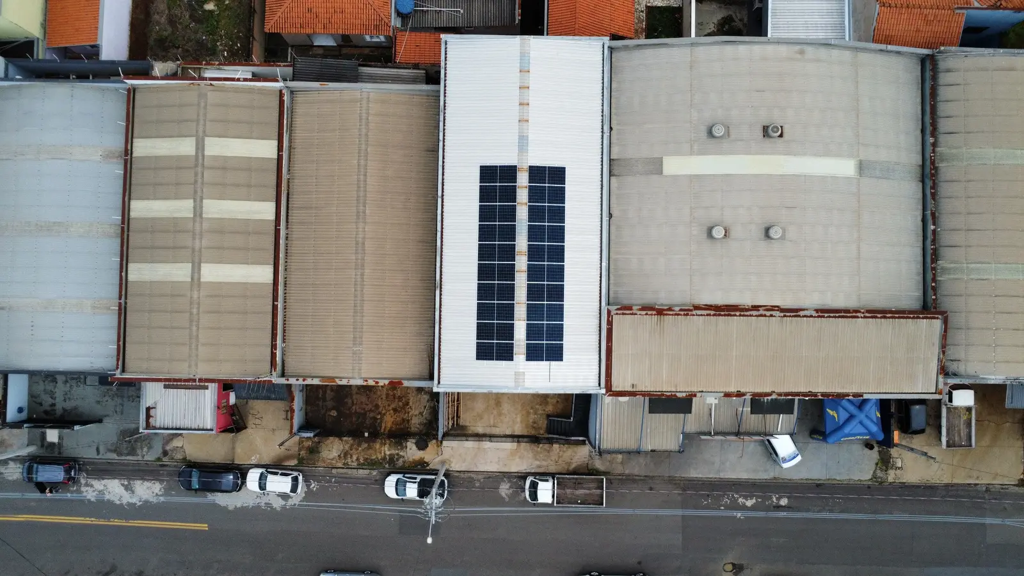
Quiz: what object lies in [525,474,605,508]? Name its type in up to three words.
truck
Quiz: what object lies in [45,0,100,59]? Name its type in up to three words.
house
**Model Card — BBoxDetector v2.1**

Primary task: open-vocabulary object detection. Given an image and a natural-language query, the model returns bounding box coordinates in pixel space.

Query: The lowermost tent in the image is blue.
[805,398,883,443]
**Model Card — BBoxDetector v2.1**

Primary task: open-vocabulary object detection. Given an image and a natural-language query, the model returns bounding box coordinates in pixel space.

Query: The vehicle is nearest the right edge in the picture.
[936,380,976,450]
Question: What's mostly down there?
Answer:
buildings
